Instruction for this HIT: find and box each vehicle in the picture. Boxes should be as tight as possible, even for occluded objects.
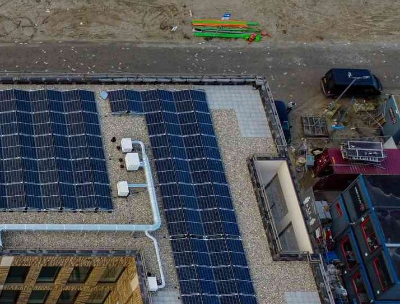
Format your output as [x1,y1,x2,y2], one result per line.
[319,64,384,96]
[268,96,290,143]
